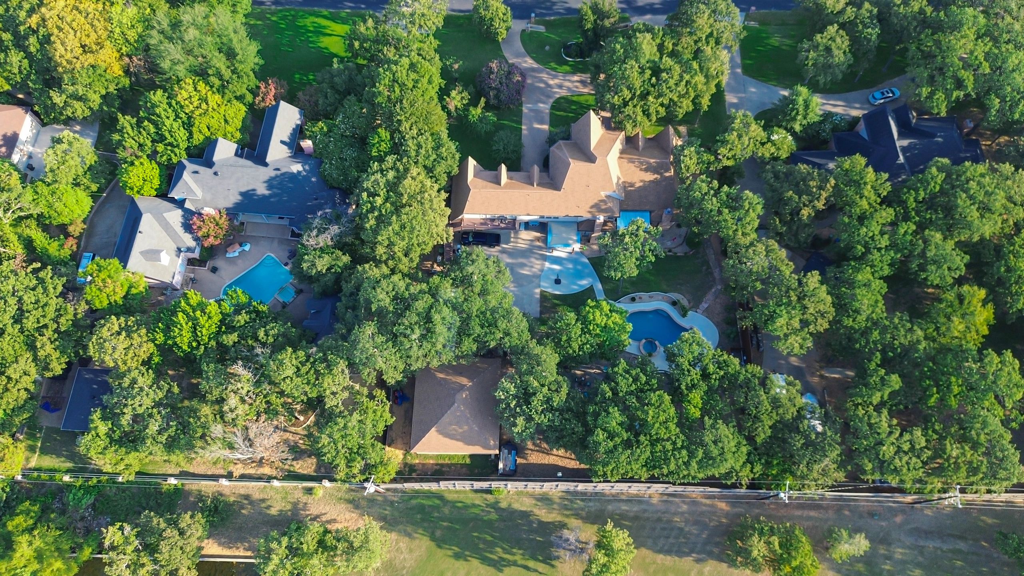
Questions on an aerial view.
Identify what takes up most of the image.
trees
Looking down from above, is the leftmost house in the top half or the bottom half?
top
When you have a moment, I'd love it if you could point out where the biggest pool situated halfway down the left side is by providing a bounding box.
[220,252,295,314]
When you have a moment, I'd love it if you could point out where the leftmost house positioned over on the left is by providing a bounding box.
[0,106,40,175]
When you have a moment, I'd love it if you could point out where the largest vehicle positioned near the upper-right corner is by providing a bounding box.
[867,87,902,106]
